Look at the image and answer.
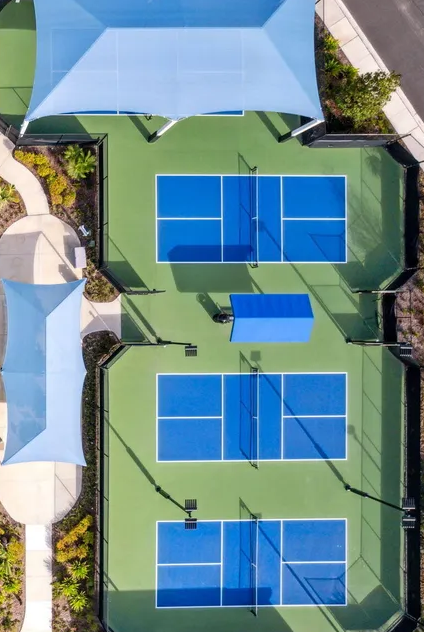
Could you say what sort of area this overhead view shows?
sports ground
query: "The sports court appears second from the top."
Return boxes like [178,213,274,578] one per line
[104,146,403,317]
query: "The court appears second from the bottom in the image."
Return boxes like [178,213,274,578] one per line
[106,317,404,489]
